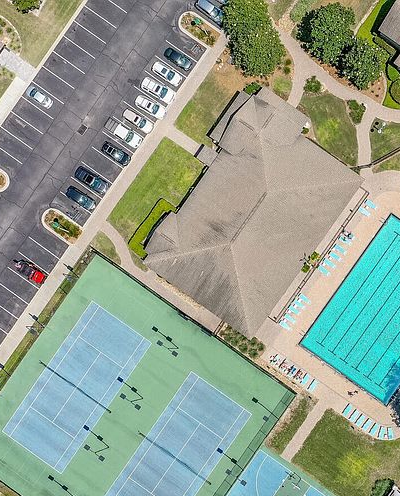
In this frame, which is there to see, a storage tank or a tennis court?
tennis court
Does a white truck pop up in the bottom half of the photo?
No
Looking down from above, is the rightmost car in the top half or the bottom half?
top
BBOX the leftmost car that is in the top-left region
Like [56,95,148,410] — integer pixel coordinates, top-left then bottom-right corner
[25,84,57,111]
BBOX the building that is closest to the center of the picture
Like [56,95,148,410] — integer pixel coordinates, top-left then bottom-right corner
[143,86,361,337]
